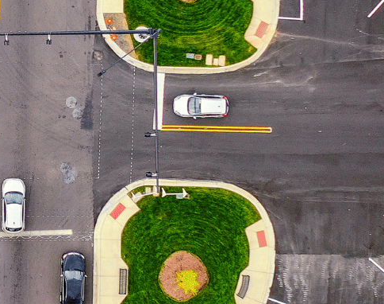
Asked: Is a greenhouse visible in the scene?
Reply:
No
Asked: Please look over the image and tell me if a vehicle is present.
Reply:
Yes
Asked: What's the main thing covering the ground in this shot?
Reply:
paved ground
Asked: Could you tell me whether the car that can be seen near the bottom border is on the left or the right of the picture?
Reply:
left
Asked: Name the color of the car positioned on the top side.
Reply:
white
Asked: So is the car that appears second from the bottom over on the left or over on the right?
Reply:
left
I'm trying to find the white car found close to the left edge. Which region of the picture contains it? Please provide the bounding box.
[0,177,28,234]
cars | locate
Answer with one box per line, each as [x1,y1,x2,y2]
[171,91,229,120]
[58,252,87,304]
[0,177,28,234]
